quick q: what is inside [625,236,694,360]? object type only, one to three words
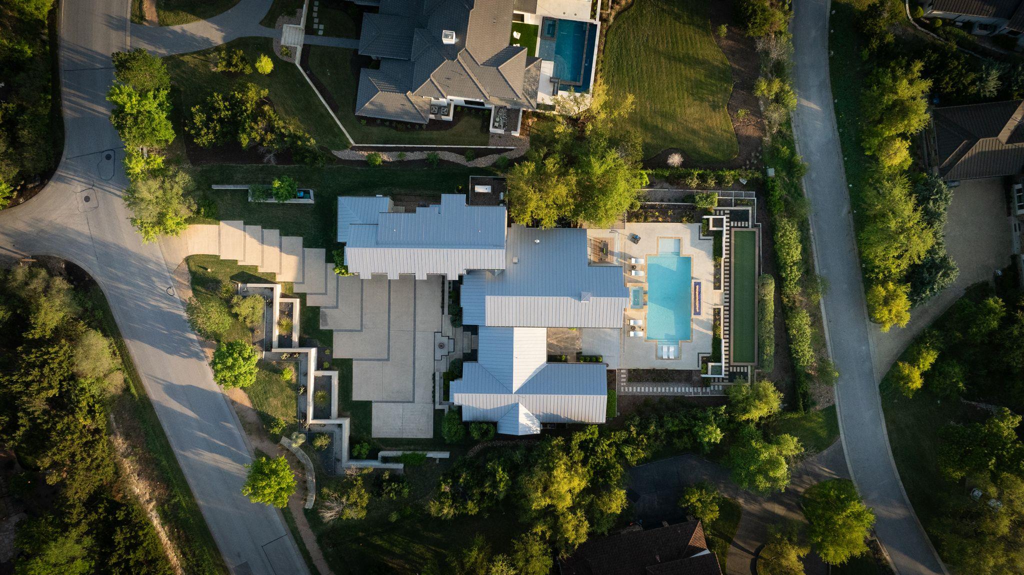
swimming pool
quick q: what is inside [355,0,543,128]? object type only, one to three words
house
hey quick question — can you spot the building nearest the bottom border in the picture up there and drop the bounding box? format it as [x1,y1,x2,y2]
[560,504,722,575]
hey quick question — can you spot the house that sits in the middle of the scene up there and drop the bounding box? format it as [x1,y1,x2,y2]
[338,194,629,435]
